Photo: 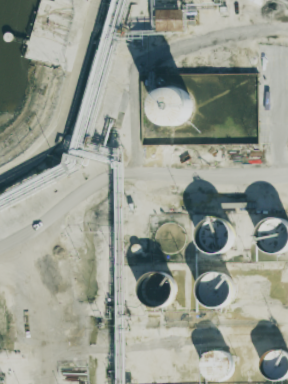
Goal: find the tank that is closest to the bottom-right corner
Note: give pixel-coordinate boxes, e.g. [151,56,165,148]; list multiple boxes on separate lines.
[260,348,288,382]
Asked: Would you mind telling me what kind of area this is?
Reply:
industrial area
